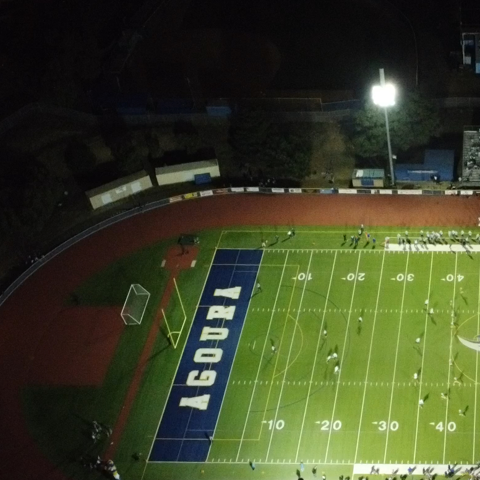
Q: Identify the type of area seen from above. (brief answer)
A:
sports ground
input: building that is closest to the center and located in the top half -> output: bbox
[153,155,220,186]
